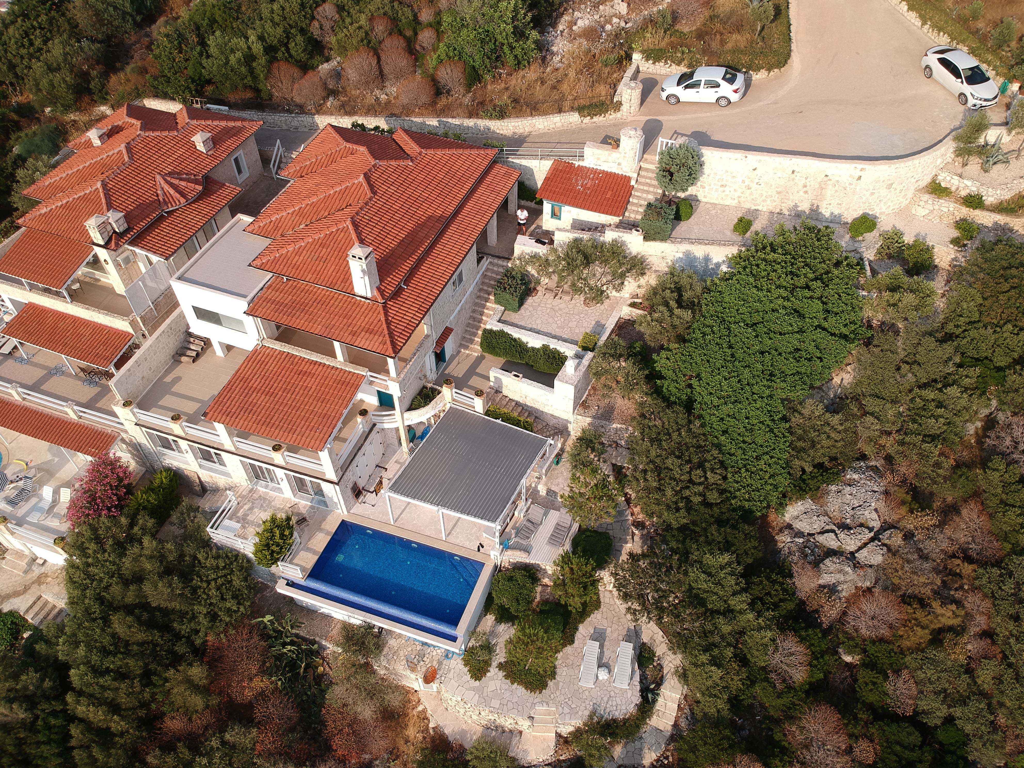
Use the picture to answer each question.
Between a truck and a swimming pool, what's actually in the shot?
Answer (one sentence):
Visible in the photo is a swimming pool.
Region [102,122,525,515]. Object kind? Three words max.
house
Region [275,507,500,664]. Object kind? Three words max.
swimming pool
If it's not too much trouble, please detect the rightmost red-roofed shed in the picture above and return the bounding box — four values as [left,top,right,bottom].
[533,165,632,231]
